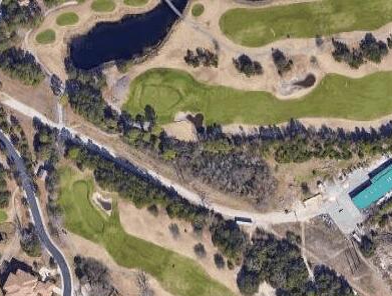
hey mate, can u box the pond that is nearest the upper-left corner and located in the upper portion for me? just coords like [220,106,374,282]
[70,0,190,69]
